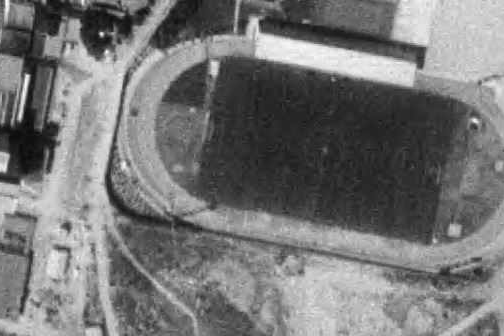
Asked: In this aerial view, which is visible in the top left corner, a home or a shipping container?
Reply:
home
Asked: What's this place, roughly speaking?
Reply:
sports ground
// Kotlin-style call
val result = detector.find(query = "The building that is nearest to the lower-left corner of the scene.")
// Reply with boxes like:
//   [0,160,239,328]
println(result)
[0,247,30,314]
